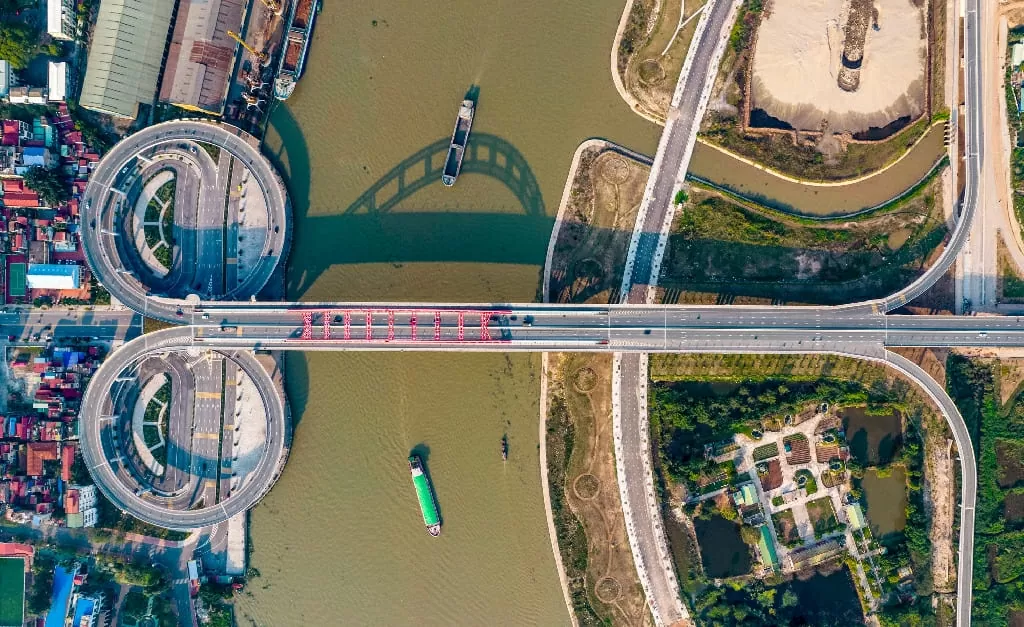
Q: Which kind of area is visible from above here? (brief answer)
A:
port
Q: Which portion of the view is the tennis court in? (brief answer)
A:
left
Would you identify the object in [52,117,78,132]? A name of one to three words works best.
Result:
house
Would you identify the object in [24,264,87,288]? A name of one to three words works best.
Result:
building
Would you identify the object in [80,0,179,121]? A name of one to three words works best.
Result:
building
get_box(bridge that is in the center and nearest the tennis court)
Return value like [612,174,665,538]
[169,292,1024,361]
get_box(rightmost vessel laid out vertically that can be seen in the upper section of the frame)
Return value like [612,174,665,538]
[444,96,473,187]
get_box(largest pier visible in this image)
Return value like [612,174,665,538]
[227,508,249,574]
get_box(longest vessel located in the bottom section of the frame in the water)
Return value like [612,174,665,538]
[408,455,440,539]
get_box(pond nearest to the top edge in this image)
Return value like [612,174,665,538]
[652,378,857,395]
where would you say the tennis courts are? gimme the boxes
[6,261,29,304]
